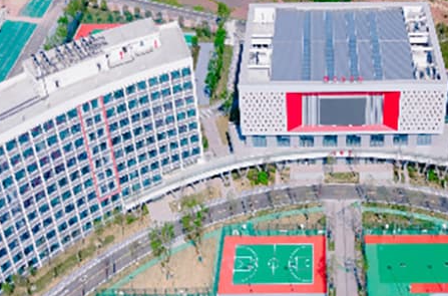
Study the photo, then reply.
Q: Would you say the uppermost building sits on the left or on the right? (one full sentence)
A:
The uppermost building sits on the right side.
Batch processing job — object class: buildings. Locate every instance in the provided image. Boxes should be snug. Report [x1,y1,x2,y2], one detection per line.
[0,19,208,286]
[238,3,448,144]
